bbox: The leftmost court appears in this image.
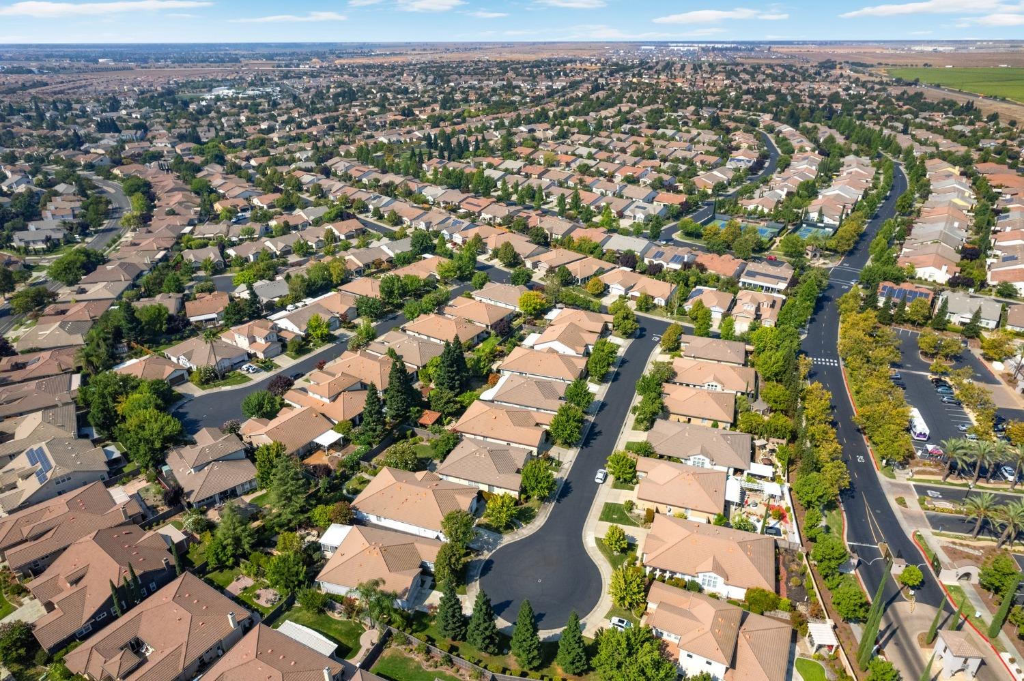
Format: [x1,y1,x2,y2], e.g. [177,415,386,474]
[700,211,782,244]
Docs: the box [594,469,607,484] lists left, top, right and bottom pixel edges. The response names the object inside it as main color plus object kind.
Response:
white vehicle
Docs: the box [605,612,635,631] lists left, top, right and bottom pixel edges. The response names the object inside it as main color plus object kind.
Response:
white car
